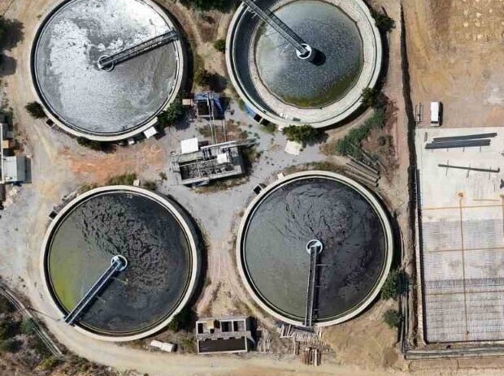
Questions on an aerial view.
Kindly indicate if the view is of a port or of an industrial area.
industrial area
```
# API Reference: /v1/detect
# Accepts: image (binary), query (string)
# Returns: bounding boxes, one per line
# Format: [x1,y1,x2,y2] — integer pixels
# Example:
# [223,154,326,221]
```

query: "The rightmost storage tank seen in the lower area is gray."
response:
[237,171,394,328]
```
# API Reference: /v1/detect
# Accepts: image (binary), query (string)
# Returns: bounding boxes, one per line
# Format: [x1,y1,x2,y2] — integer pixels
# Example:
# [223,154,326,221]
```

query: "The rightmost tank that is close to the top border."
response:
[227,0,384,128]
